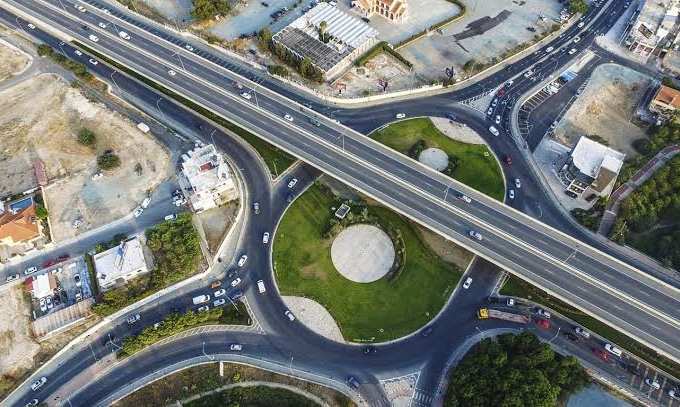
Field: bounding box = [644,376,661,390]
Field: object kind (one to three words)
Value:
vehicle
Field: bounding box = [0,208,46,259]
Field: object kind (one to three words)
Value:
house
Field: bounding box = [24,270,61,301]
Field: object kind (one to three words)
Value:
building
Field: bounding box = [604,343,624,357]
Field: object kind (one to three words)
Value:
vehicle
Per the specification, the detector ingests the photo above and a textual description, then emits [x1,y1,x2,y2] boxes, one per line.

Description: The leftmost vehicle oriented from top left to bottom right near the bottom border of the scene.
[345,374,362,390]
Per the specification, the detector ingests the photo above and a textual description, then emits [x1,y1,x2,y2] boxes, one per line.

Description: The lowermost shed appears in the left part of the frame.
[33,299,96,339]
